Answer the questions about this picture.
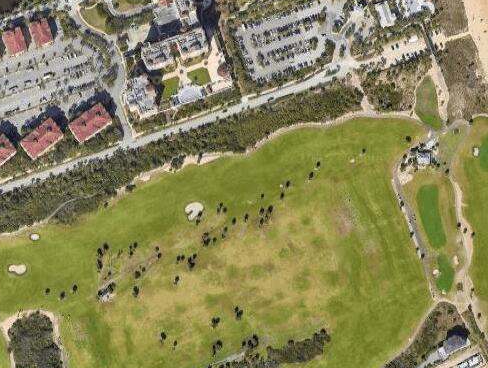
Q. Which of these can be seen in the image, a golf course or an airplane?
golf course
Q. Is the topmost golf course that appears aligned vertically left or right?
right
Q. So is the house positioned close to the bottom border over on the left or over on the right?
right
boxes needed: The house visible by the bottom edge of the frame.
[440,333,466,355]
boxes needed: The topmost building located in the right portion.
[376,1,396,27]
